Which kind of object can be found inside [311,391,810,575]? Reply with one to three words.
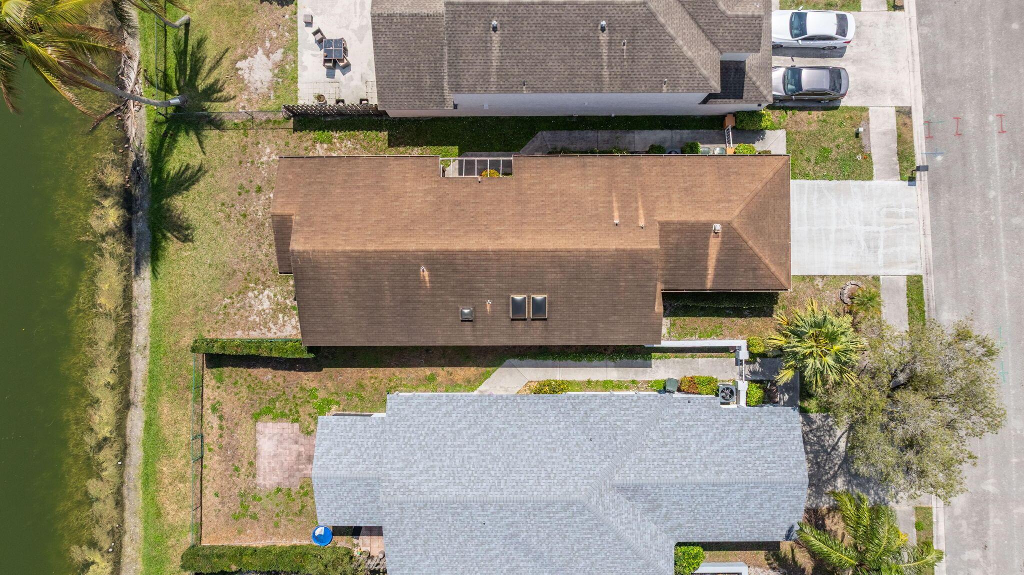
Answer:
house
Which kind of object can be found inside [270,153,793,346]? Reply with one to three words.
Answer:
house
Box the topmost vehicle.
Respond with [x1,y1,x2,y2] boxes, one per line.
[771,6,854,49]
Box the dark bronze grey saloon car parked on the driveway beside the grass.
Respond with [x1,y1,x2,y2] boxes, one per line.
[771,61,848,102]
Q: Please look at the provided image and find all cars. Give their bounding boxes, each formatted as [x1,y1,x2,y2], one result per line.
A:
[771,61,848,102]
[771,6,854,49]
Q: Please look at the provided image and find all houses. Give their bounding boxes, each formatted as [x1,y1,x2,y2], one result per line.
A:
[270,153,793,346]
[311,391,810,575]
[371,0,774,116]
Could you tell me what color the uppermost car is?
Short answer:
white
